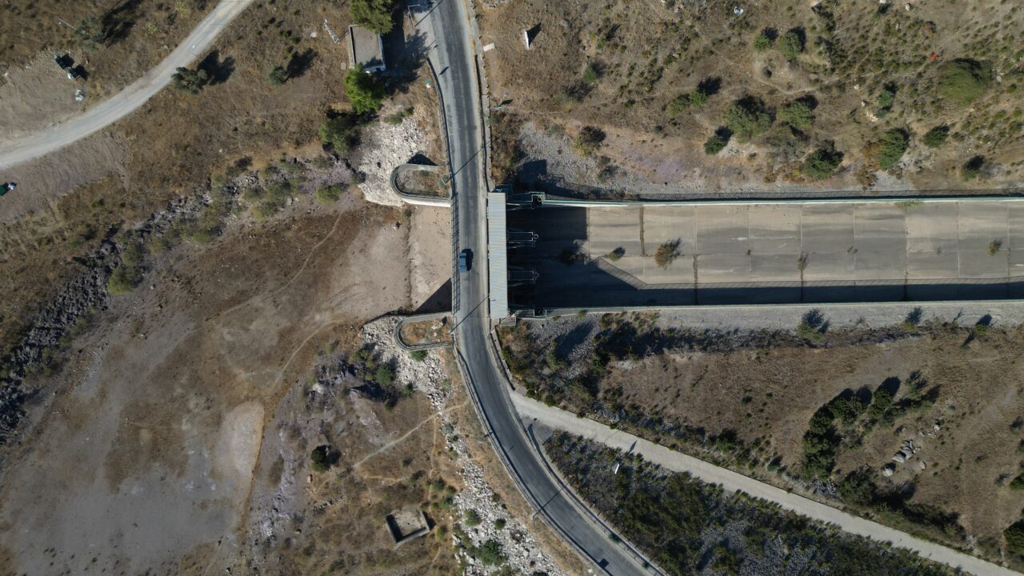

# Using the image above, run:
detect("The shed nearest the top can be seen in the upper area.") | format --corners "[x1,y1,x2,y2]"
[349,25,389,81]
